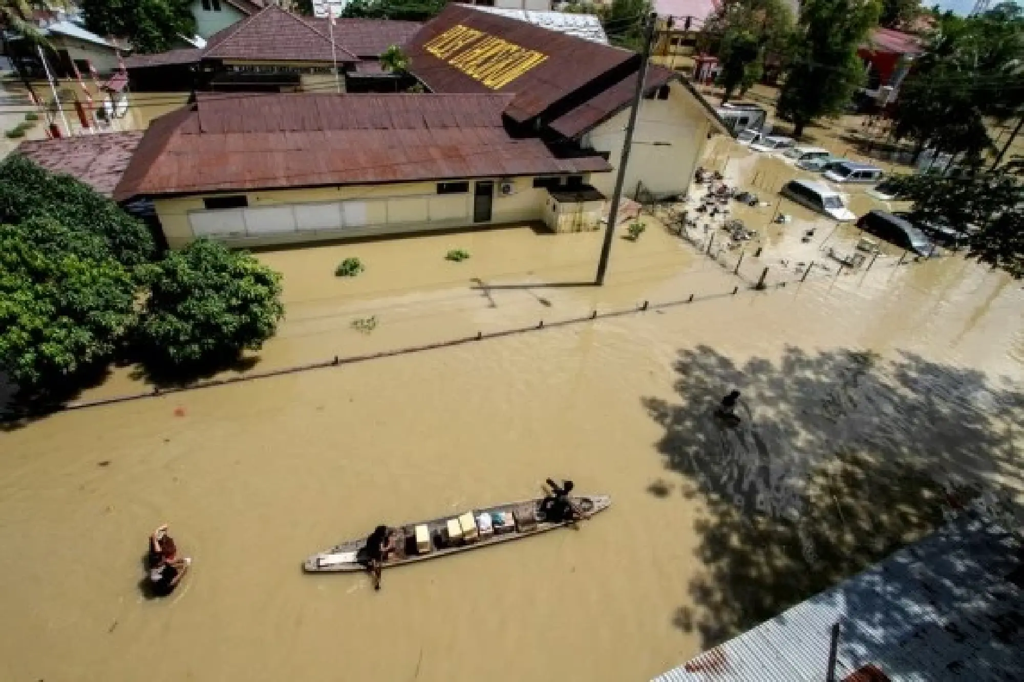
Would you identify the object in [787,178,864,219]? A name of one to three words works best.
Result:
vehicle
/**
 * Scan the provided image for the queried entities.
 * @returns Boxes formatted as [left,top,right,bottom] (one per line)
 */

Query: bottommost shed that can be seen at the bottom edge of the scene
[656,478,1024,682]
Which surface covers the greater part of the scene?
water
